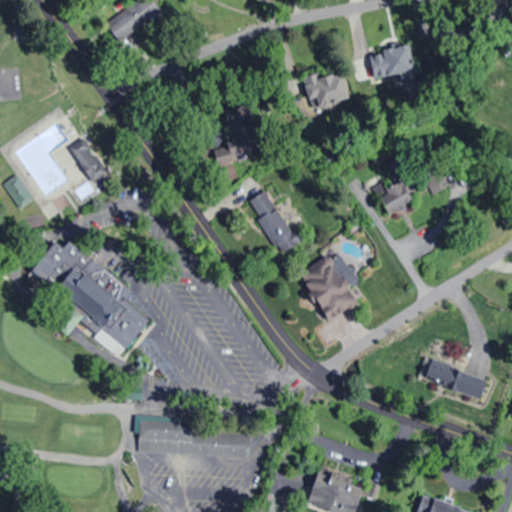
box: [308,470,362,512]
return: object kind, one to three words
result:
house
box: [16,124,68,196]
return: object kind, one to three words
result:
swimming pool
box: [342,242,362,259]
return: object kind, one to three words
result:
swimming pool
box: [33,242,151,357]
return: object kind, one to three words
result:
building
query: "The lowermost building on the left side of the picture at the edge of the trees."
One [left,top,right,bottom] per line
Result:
[134,416,250,461]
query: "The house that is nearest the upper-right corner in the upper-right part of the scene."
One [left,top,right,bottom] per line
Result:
[372,44,418,78]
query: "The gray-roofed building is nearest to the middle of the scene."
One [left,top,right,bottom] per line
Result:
[250,192,300,250]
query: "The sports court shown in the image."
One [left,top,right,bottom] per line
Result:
[0,67,22,101]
